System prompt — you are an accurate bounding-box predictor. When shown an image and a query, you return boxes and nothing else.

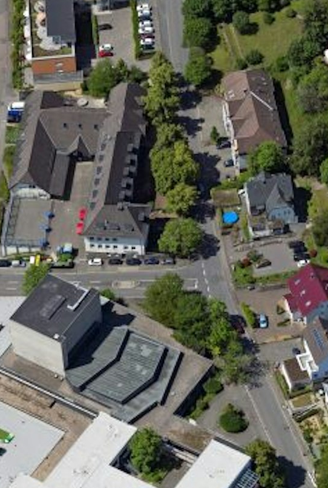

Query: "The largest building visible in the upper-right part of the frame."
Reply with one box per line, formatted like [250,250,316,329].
[226,70,287,176]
